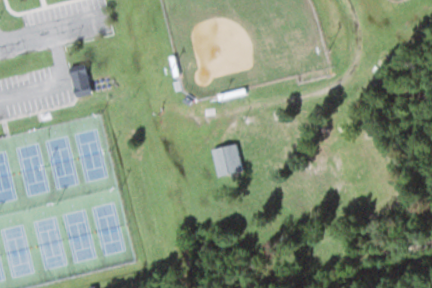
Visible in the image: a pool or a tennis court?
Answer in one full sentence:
I can see a tennis court in this picture.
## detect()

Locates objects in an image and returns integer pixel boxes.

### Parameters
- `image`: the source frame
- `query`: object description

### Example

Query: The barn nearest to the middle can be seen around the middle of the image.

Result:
[212,144,243,178]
